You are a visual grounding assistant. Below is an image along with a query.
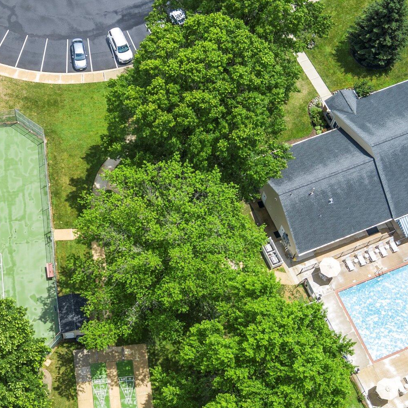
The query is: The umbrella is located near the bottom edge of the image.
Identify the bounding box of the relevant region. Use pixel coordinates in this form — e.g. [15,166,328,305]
[375,378,398,402]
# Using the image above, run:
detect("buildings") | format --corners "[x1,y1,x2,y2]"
[57,297,90,341]
[250,80,408,258]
